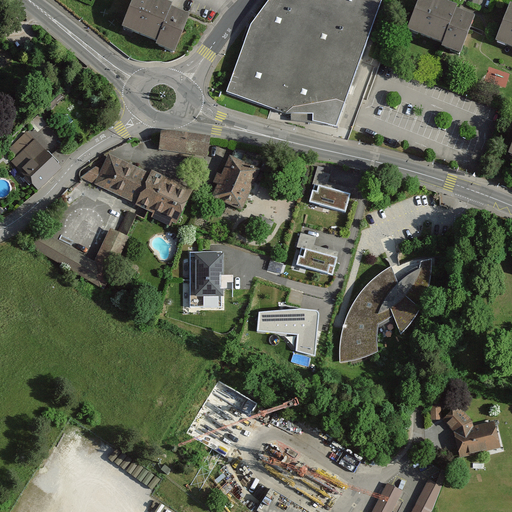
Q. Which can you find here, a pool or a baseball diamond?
pool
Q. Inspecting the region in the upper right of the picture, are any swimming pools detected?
No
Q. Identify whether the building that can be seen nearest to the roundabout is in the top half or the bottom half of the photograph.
top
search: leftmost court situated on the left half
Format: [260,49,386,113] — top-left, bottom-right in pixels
[63,208,104,252]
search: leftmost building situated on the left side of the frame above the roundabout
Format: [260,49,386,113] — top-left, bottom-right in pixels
[122,0,172,44]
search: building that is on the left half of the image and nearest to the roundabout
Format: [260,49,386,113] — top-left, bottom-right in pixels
[159,130,210,157]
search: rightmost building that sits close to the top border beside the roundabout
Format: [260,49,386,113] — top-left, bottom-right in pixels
[227,0,376,128]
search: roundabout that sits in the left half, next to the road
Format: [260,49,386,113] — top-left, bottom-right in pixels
[106,52,222,138]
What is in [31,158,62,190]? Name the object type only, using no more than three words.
building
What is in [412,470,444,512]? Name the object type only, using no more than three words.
barn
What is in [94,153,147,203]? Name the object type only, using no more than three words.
house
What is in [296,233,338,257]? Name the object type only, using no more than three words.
building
